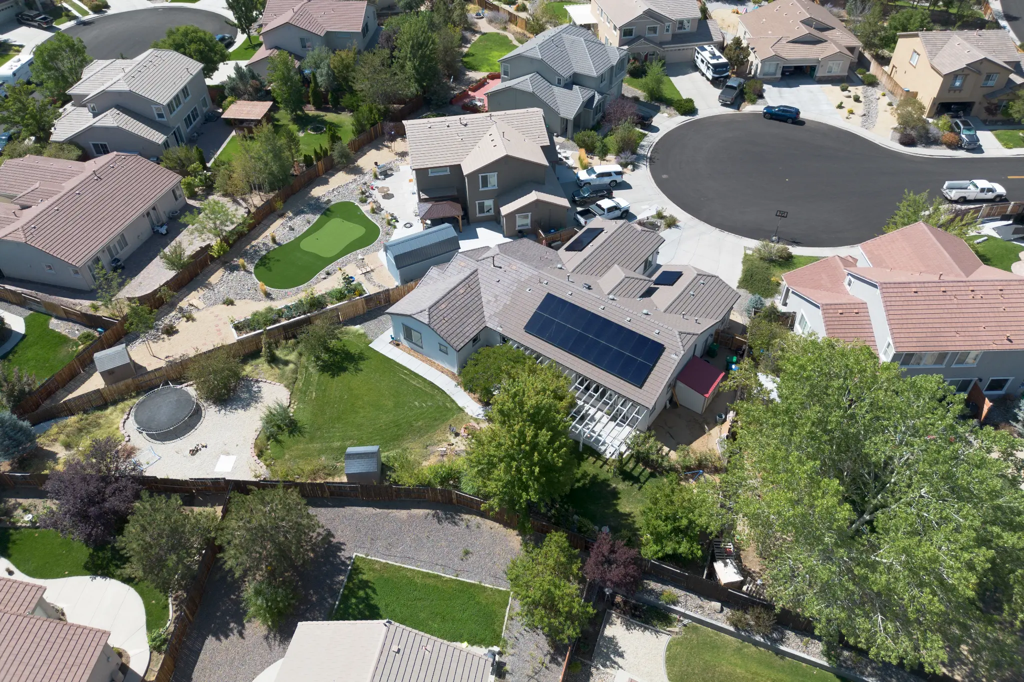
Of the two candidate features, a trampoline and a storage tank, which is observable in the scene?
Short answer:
trampoline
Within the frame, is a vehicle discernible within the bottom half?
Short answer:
No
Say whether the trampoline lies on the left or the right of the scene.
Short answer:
left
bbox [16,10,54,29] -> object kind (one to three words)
vehicle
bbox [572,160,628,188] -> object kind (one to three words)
car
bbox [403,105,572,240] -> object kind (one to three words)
house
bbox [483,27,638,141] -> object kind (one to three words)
house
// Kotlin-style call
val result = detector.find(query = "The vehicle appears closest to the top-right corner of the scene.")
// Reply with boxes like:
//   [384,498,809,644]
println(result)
[953,120,985,152]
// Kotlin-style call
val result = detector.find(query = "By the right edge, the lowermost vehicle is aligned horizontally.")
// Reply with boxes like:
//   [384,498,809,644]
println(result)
[938,177,1012,204]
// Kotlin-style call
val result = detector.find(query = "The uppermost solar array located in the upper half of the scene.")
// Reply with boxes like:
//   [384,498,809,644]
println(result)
[558,225,612,258]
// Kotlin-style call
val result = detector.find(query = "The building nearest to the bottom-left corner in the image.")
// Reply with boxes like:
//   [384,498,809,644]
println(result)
[0,571,122,682]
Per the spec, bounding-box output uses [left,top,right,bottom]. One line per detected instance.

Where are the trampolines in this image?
[128,382,203,440]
